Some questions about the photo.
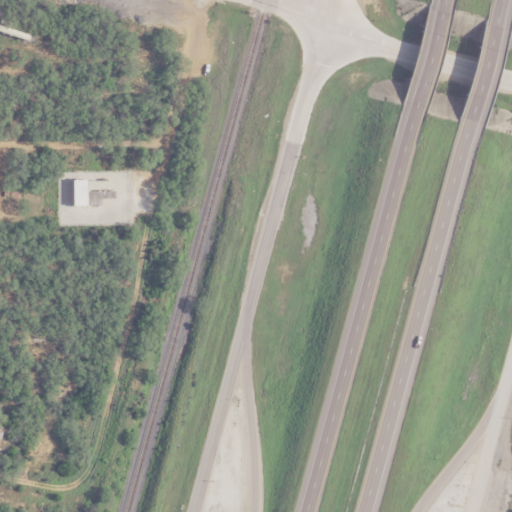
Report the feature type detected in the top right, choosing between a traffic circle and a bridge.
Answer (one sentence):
The feature located in the top right is a bridge.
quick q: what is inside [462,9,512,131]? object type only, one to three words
bridge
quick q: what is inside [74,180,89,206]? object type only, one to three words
shed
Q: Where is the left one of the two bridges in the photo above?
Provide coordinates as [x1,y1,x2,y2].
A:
[402,0,458,118]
